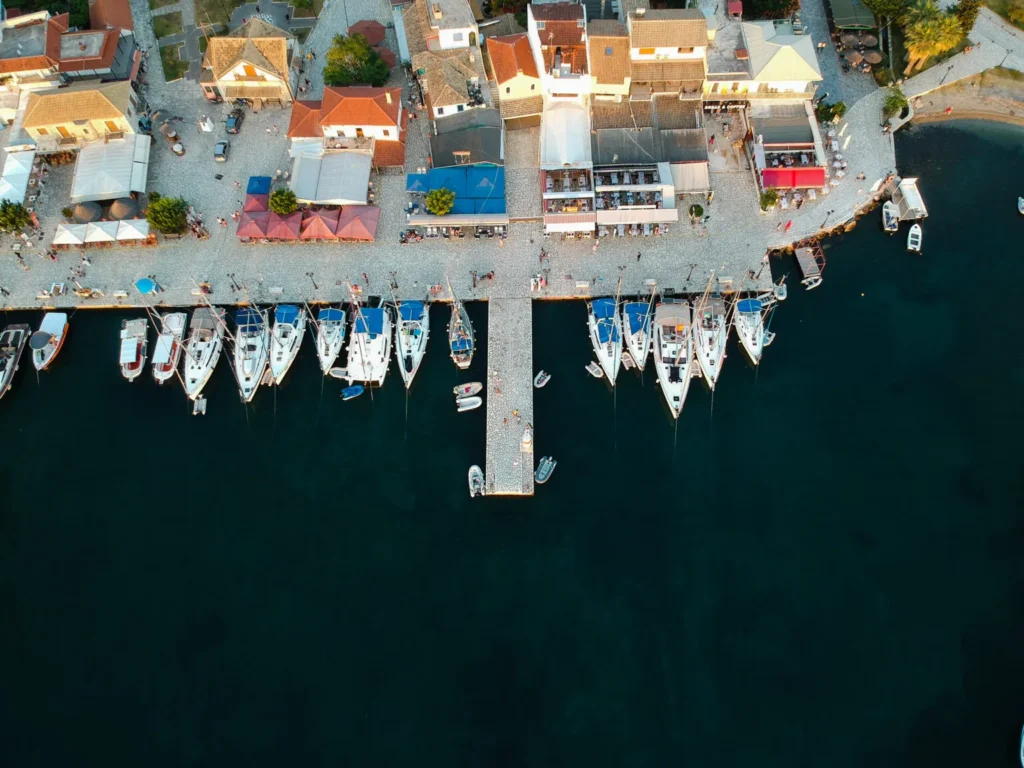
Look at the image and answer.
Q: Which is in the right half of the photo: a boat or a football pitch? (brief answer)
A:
boat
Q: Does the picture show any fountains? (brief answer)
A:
No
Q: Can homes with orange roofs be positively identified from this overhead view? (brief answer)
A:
Yes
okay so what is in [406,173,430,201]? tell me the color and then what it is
blue tent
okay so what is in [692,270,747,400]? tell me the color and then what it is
white boat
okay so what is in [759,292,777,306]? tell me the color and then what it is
gray boat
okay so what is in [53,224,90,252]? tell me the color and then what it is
white tent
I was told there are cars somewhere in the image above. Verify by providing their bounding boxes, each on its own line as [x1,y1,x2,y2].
[226,112,243,135]
[213,142,228,162]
